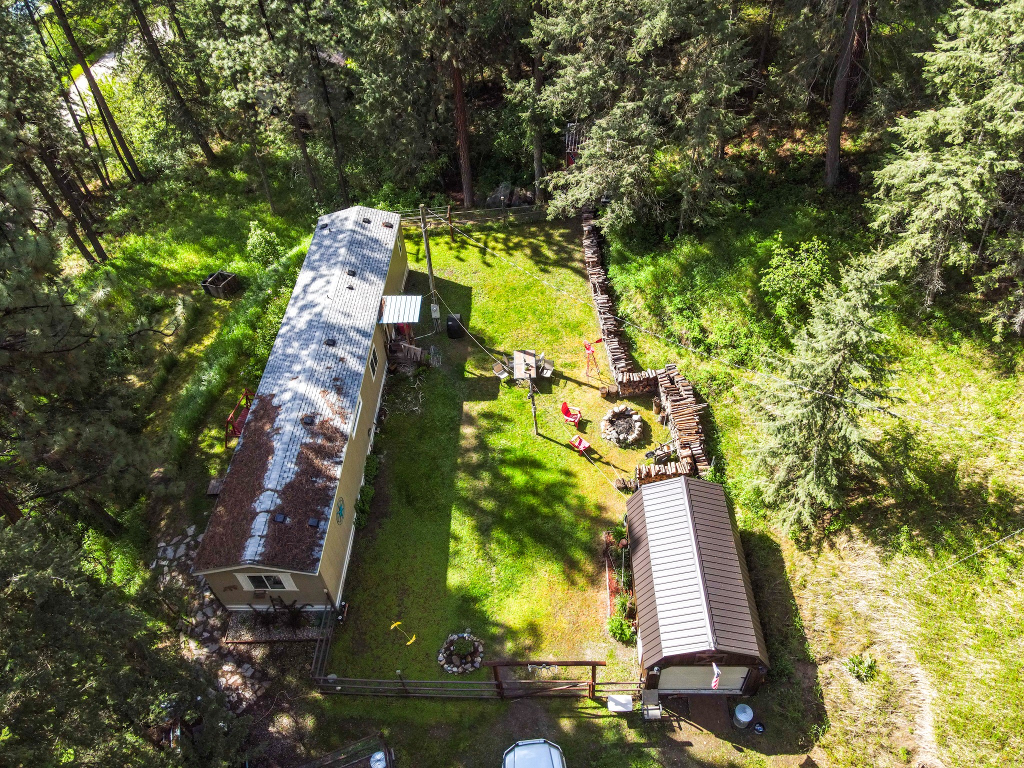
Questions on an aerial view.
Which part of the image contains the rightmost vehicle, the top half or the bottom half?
bottom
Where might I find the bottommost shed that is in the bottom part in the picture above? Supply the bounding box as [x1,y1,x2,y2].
[624,476,772,690]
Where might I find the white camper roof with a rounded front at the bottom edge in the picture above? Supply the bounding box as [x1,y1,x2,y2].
[503,741,566,768]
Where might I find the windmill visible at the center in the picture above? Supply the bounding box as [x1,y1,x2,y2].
[586,346,613,387]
